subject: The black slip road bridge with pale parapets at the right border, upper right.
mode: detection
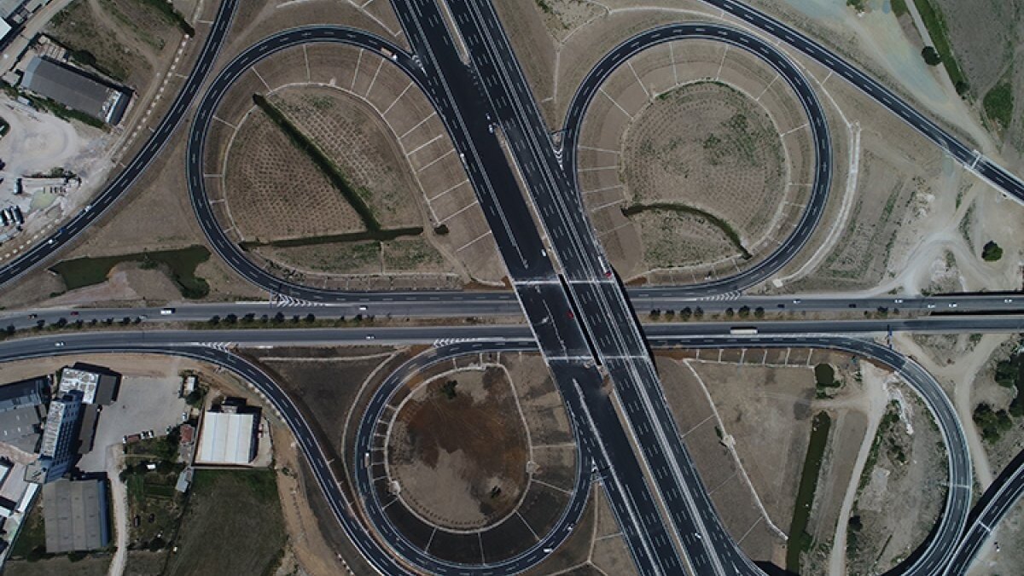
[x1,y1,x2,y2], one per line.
[973,157,1024,204]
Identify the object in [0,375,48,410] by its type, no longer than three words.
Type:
building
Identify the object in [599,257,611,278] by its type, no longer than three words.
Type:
vehicle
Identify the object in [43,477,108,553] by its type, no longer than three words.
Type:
building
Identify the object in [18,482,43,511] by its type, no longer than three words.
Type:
shed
